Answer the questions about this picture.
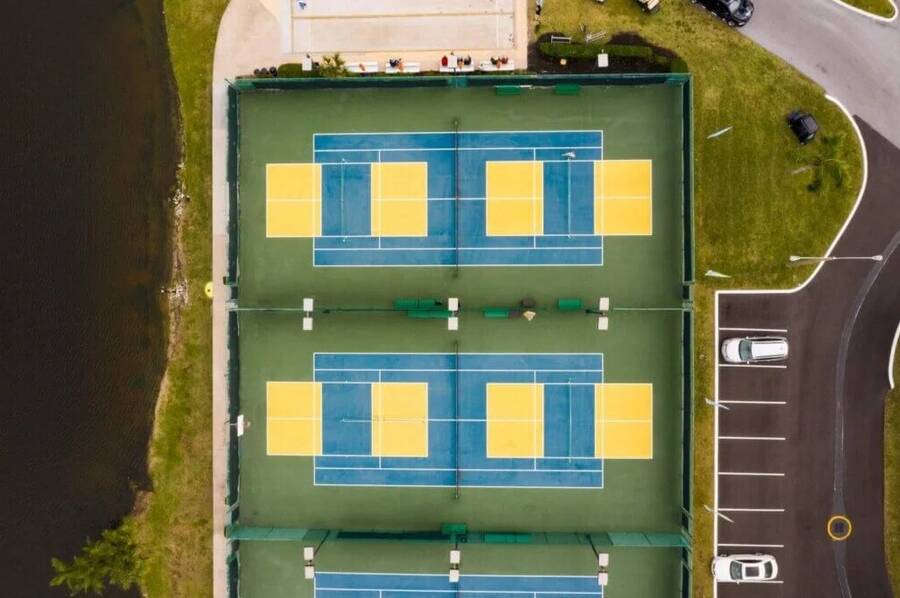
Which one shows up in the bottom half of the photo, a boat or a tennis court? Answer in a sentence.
It is a tennis court that can be seen in the bottom half of the photo.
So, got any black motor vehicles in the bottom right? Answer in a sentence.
No, there's no black motor vehicle to be seen in the bottom right.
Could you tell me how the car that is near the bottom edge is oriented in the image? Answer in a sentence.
In this picture, the car that is near the bottom edge lies horizontally.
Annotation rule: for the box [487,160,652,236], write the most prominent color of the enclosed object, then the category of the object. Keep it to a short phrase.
yellow sports court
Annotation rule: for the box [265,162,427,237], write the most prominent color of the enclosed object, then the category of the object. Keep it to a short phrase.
yellow sports court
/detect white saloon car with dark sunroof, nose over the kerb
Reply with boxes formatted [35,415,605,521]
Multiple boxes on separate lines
[712,553,778,584]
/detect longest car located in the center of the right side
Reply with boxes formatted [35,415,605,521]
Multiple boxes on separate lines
[720,335,789,365]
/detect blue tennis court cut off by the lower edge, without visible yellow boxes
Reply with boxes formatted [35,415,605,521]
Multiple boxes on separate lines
[242,530,684,598]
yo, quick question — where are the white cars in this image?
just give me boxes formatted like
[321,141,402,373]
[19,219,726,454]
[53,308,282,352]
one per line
[712,553,778,584]
[720,335,789,365]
